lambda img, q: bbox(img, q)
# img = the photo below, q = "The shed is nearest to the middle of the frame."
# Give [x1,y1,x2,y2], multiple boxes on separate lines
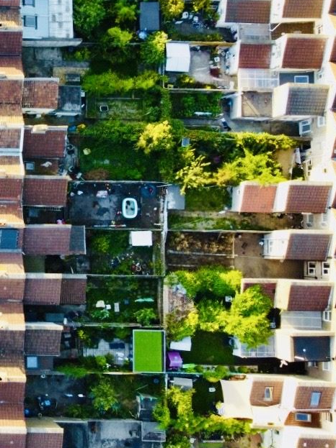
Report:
[165,184,186,209]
